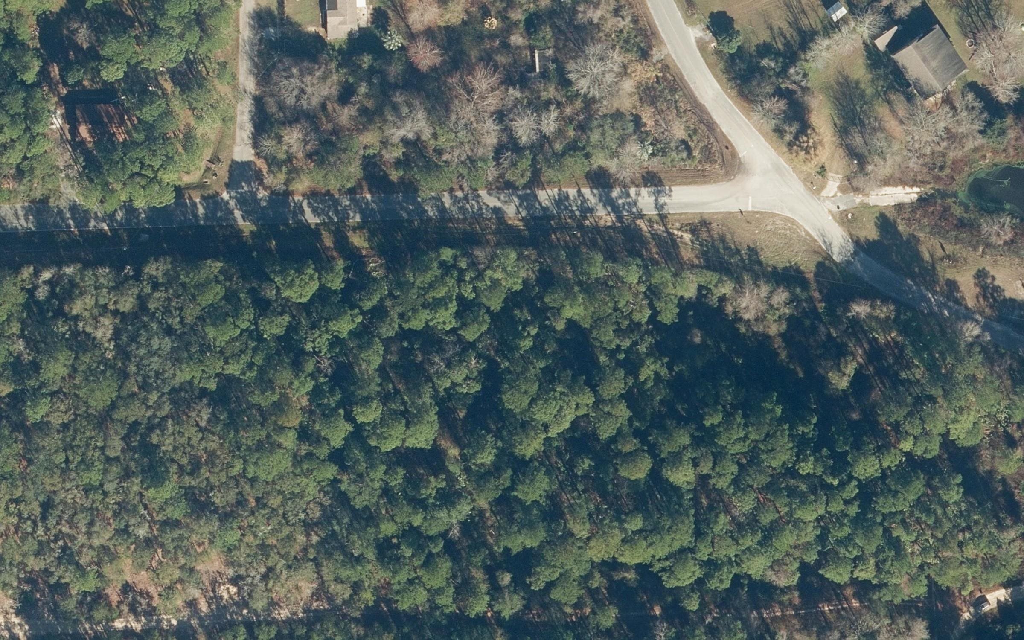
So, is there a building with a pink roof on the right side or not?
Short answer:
No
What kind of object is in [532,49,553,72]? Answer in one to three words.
shed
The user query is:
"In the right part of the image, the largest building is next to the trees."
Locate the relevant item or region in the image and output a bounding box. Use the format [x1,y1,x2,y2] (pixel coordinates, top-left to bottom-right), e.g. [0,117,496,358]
[875,24,967,99]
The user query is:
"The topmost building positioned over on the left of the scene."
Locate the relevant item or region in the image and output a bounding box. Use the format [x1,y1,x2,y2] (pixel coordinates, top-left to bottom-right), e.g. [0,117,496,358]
[326,0,366,38]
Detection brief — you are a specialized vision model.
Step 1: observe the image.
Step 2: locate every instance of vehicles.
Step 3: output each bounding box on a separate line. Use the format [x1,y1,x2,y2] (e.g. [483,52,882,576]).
[977,594,994,615]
